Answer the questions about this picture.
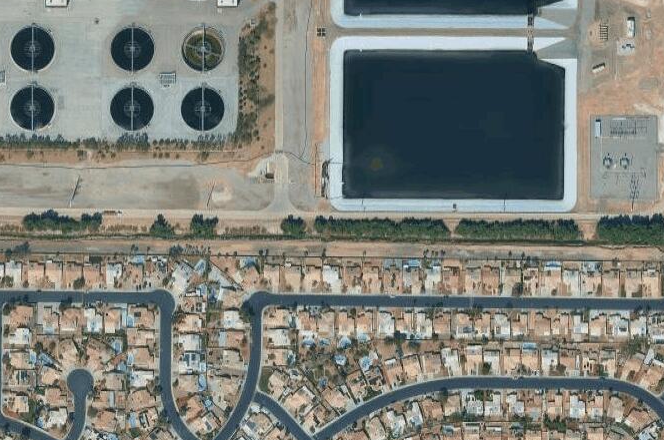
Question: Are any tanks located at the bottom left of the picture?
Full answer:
No, there is no tank at the bottom left of the picture.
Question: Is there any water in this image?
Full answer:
Yes, water shows up in the scene.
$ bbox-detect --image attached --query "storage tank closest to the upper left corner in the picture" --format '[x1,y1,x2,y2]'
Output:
[10,23,55,72]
